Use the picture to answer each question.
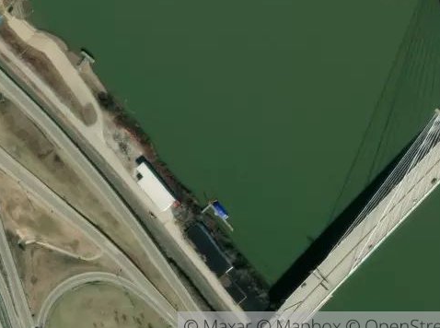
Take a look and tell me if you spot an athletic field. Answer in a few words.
No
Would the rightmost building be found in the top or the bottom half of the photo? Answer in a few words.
bottom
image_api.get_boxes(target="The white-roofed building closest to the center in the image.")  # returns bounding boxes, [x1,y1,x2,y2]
[137,163,181,213]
